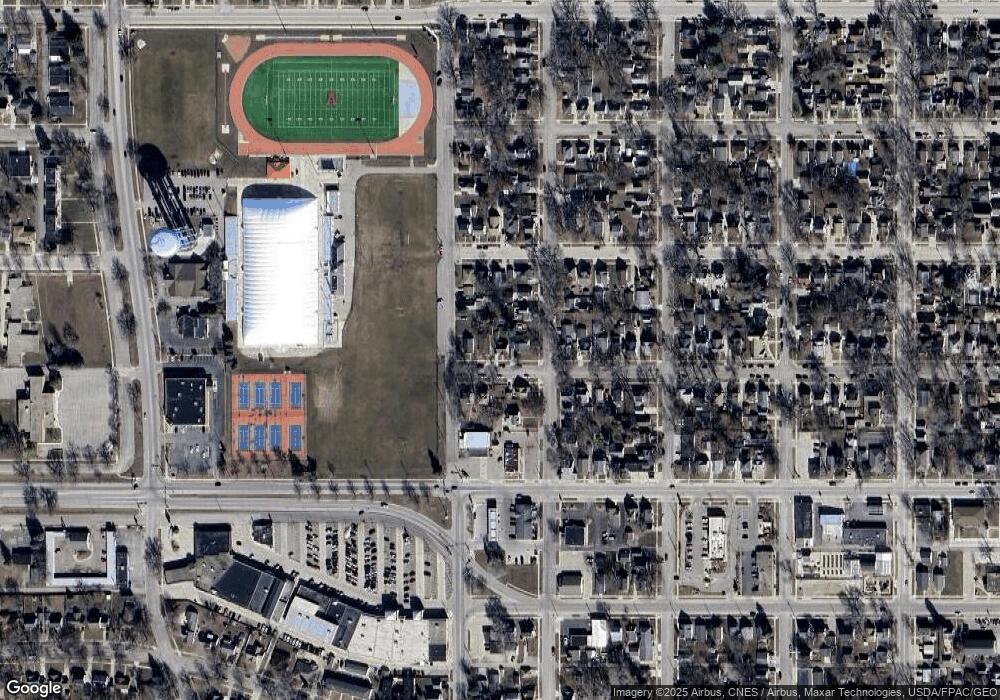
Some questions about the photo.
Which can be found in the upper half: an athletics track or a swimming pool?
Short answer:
athletics track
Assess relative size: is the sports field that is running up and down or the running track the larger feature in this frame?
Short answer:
the sports field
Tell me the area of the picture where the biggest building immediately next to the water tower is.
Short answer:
left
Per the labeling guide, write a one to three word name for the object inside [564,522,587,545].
building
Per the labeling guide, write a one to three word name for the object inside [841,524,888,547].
shed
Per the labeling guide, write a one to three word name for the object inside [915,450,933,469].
house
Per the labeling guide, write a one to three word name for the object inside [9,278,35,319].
building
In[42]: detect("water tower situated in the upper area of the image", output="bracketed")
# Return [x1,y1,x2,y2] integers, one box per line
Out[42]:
[149,226,203,260]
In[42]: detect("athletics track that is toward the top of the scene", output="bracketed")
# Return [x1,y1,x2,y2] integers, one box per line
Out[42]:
[229,43,433,155]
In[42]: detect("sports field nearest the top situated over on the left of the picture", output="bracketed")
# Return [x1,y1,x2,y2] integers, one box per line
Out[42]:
[243,57,399,142]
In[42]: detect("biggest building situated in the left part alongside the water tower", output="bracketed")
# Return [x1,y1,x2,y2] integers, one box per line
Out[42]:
[166,264,208,297]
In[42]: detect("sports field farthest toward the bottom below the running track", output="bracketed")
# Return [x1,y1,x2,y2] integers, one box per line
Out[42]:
[308,175,437,478]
